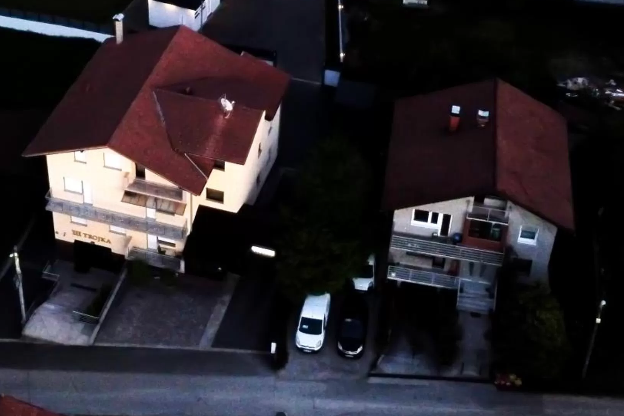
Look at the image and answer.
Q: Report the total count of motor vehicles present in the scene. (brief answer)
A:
3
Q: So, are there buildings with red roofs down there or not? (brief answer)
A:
Yes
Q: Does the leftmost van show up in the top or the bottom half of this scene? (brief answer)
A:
bottom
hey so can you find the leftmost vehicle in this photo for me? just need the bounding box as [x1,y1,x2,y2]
[295,292,331,359]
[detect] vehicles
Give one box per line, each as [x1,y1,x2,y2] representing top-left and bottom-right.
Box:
[349,263,384,297]
[295,292,331,359]
[337,308,369,363]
